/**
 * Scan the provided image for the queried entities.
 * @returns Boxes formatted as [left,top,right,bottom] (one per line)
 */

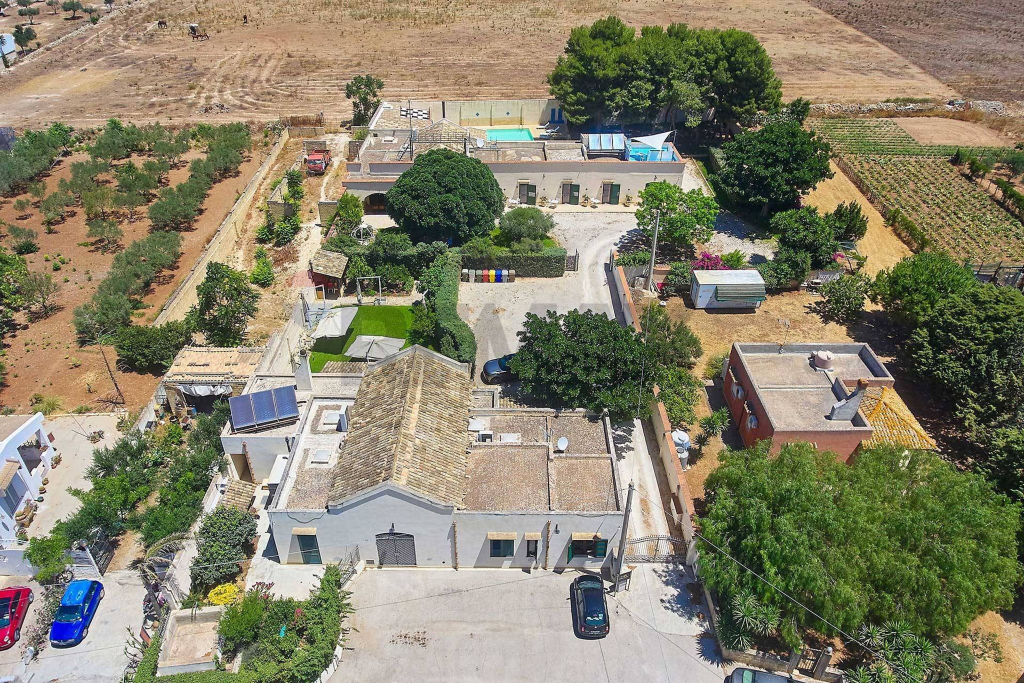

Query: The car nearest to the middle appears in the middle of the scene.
[487,355,515,384]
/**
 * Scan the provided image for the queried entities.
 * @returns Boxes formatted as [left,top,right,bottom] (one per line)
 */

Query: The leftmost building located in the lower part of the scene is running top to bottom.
[0,408,62,553]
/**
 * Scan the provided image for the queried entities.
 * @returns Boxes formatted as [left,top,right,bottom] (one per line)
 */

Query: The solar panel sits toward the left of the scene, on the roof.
[229,385,302,434]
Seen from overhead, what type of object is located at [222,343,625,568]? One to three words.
house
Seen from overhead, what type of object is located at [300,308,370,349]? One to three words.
umbrella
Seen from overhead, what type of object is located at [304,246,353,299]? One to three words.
shed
